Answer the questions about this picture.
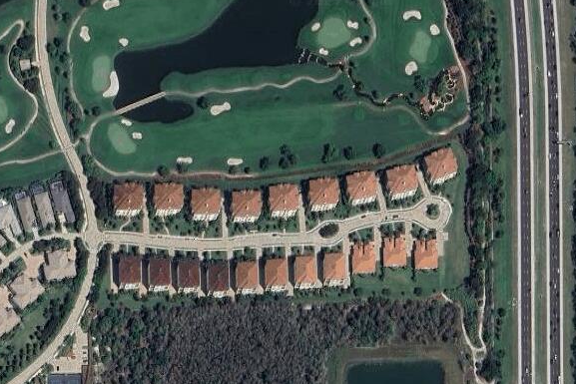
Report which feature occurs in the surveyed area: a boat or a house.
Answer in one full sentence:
The one in the frame is a house.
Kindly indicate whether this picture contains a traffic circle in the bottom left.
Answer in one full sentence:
No, there is no traffic circle in the bottom left.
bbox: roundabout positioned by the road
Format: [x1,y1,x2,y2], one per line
[417,195,451,230]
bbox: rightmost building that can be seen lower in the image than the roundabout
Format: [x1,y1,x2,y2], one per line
[415,240,437,272]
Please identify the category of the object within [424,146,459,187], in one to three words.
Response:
house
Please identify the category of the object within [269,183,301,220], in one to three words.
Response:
house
